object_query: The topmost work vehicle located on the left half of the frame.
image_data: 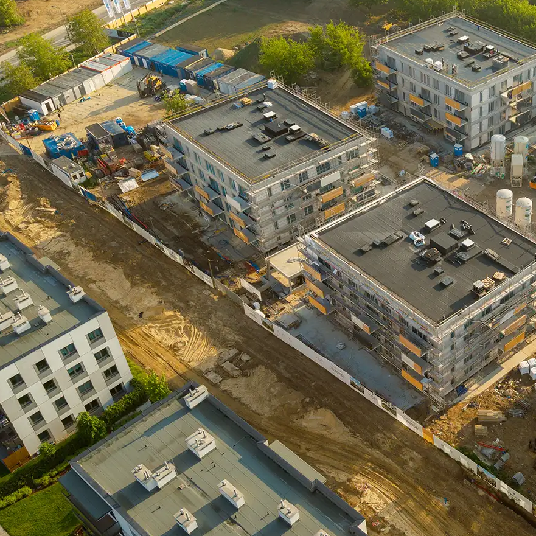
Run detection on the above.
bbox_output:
[132,76,162,97]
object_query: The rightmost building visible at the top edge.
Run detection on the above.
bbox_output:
[375,15,536,152]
